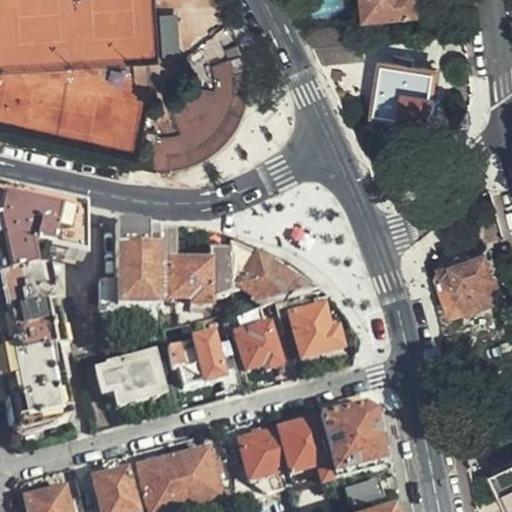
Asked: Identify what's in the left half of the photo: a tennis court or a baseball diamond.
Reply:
tennis court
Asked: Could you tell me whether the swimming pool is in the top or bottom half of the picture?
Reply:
top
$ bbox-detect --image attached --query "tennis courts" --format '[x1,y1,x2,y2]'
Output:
[0,68,143,153]
[0,0,76,70]
[76,0,156,66]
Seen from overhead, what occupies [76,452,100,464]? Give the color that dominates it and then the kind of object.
white vehicle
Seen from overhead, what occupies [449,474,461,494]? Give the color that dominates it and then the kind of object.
white vehicle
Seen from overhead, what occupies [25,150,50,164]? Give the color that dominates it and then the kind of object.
white car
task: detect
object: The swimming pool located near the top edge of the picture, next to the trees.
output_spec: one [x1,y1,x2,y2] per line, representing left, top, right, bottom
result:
[312,0,346,20]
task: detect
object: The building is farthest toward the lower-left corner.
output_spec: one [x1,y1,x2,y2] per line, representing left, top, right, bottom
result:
[22,483,78,512]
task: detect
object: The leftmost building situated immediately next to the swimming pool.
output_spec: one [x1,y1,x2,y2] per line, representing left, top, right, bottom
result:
[310,28,366,68]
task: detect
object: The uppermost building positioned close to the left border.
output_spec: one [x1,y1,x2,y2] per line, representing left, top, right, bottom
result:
[7,189,92,266]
